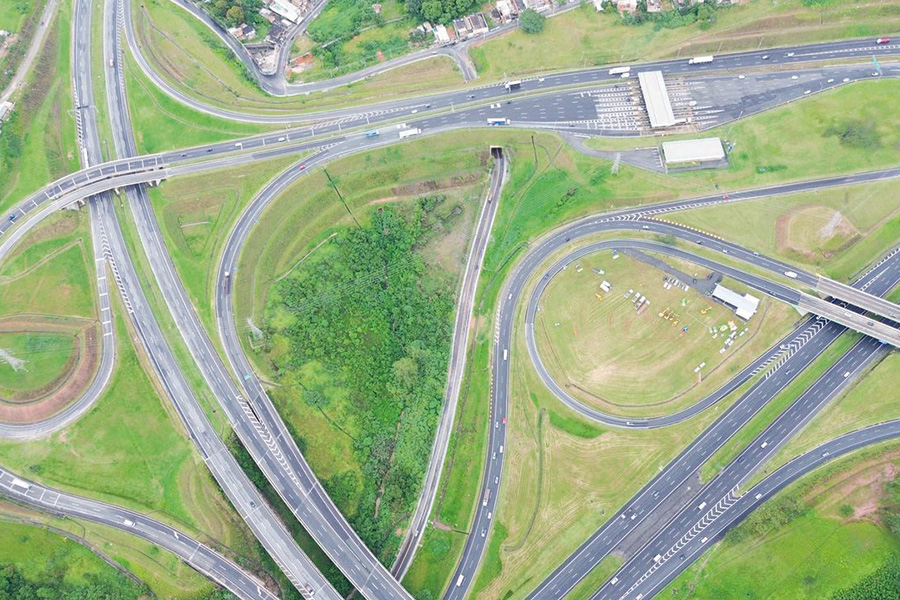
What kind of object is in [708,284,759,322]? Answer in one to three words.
building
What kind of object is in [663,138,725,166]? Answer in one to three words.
building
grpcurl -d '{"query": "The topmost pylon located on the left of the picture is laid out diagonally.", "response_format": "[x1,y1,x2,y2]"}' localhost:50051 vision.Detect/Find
[246,320,265,341]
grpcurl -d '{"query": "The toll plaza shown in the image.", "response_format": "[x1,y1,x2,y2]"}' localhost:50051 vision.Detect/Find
[628,71,700,131]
